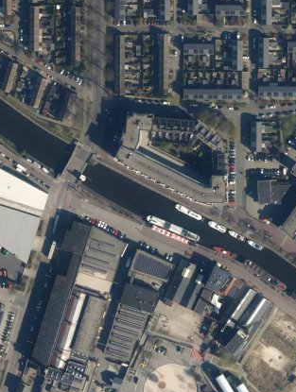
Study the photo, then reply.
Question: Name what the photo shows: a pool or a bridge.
bridge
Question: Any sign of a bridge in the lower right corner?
No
